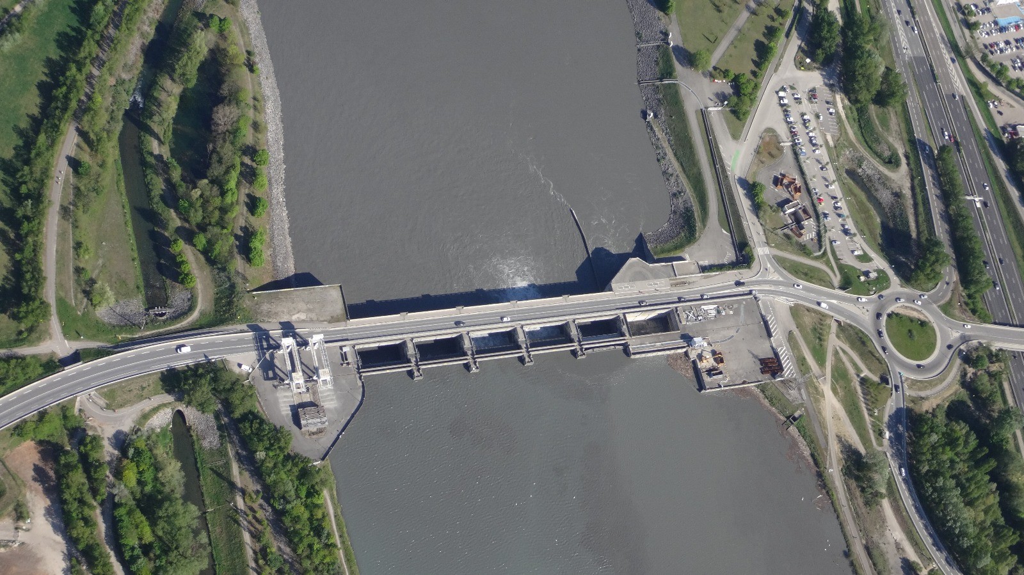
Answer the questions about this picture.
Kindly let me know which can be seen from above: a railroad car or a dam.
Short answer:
dam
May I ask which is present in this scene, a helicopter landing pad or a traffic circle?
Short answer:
traffic circle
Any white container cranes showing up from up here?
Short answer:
Yes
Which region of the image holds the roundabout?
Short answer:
right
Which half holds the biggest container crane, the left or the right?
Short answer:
left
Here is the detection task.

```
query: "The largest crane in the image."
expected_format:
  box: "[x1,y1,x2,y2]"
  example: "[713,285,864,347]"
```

[268,332,334,393]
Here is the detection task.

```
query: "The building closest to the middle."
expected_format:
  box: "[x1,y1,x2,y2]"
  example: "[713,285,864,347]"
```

[602,256,677,294]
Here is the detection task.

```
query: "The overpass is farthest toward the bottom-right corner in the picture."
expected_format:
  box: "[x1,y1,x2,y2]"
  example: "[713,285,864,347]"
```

[959,320,1024,348]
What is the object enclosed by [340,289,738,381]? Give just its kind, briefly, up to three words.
dam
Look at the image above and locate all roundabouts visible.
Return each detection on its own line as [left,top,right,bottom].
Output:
[856,287,968,379]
